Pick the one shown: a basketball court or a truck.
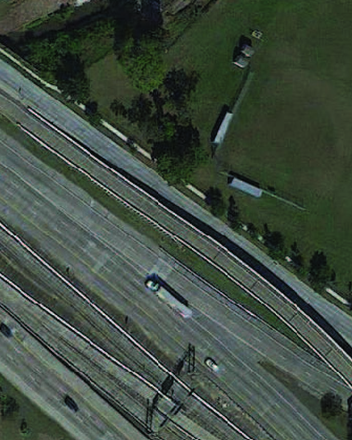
truck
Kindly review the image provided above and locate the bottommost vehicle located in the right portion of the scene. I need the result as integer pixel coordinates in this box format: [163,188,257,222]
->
[204,357,221,372]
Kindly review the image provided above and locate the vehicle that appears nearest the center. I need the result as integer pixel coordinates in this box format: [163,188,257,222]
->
[145,279,193,318]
